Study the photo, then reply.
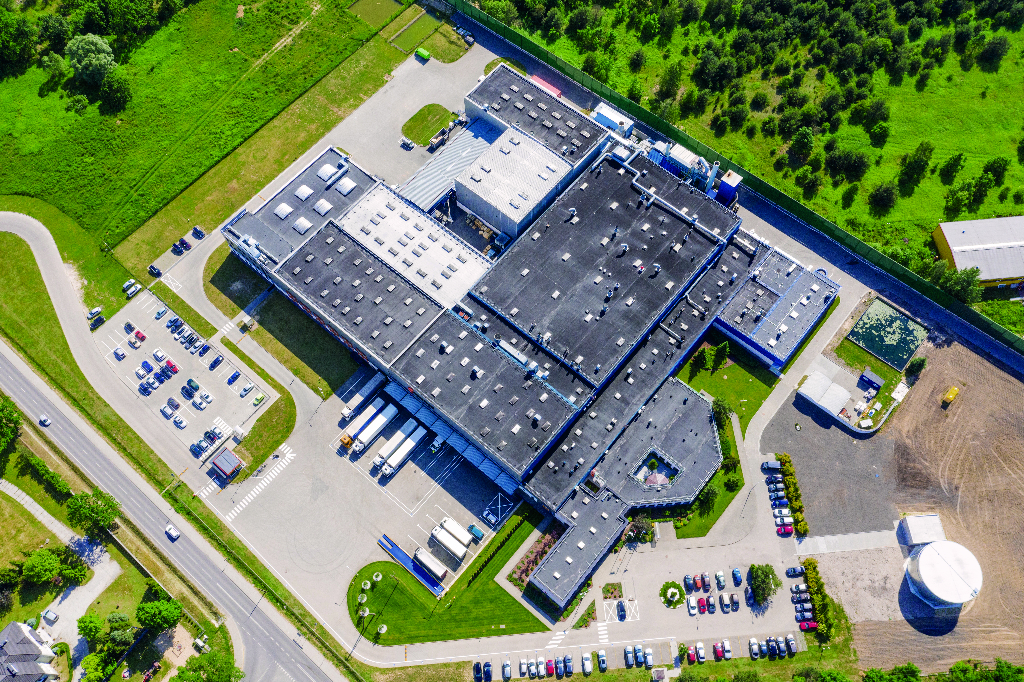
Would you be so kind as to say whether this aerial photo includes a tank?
Yes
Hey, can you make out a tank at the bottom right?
Yes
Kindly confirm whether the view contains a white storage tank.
Yes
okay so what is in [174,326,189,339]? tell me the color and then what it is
white vehicle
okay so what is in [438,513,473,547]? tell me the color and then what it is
white truck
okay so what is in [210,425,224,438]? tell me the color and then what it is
white vehicle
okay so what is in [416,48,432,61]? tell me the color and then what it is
green vehicle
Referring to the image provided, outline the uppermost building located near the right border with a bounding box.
[932,217,1024,280]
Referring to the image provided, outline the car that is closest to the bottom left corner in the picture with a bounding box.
[43,609,60,622]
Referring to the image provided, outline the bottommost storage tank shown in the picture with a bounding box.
[903,541,983,611]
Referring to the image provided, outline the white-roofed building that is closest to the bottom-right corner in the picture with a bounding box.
[900,514,947,549]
